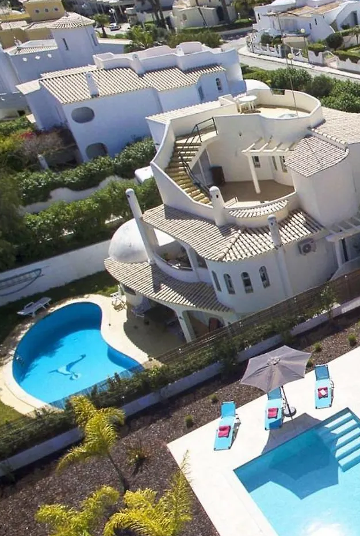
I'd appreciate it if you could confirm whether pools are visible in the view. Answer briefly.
Yes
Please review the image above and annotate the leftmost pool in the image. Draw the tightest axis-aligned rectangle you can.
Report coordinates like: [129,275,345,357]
[3,298,154,411]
